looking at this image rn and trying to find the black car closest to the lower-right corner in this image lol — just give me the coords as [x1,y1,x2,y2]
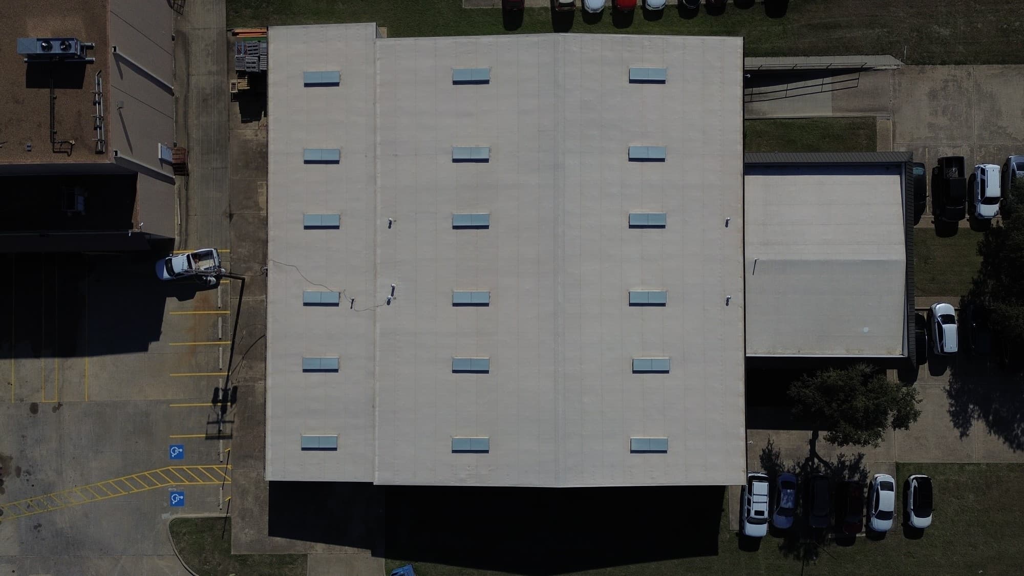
[903,473,933,528]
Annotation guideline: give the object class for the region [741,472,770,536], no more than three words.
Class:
car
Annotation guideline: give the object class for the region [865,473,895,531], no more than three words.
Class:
car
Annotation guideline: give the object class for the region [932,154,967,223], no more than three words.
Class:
truck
